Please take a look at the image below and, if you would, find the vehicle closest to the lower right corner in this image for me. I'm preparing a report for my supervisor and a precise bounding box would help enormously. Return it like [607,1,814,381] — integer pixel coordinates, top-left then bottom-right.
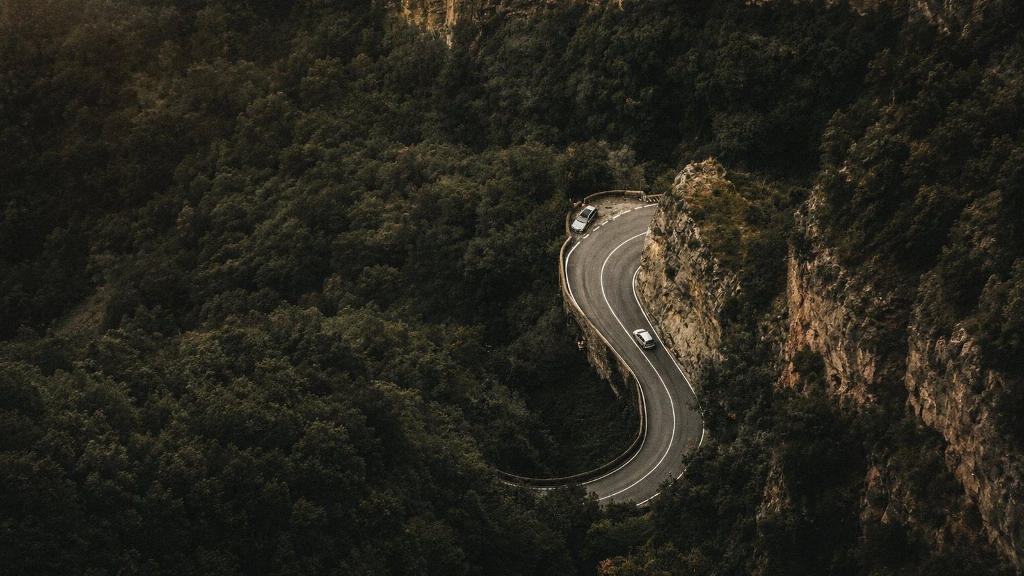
[634,329,656,351]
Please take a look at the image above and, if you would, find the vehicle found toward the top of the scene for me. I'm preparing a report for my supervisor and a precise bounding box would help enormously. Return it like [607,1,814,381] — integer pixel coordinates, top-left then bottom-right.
[573,205,598,231]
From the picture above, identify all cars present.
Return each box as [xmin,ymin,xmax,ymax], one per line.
[573,205,598,231]
[634,329,656,351]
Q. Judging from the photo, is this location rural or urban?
rural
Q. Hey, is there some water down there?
No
